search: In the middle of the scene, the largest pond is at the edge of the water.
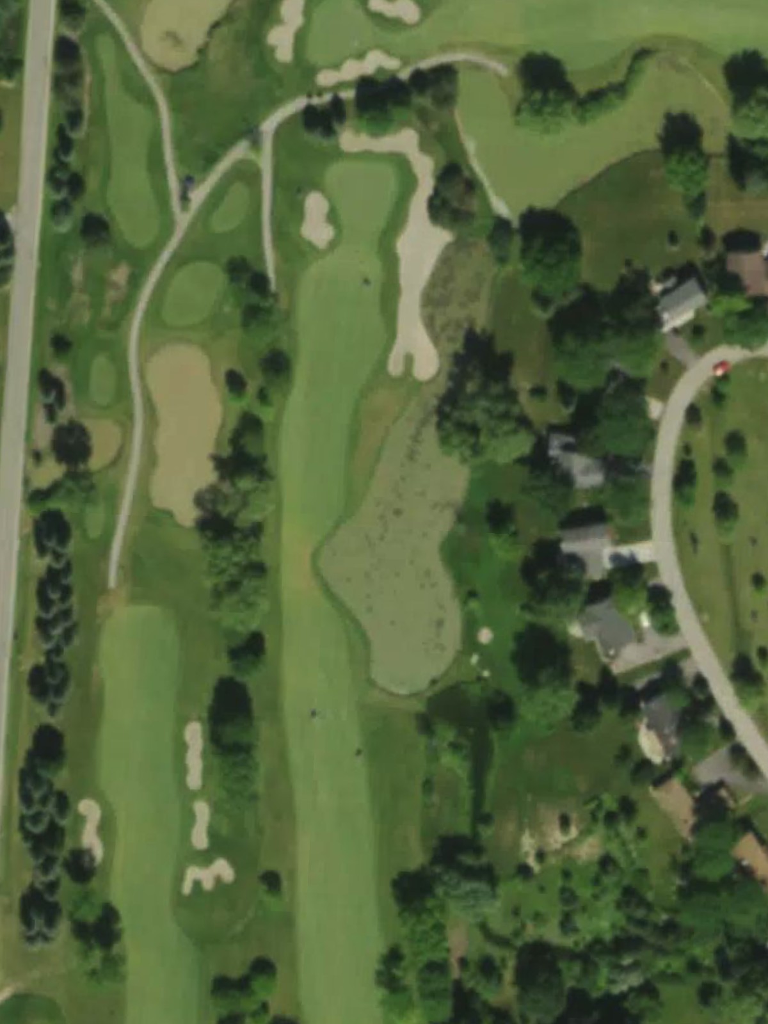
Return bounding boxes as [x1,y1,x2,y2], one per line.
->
[303,374,480,703]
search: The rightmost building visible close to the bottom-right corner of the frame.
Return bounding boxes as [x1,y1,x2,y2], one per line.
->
[734,835,768,879]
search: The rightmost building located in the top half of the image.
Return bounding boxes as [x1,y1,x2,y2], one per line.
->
[729,248,768,300]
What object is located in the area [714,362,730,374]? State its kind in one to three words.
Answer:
vehicle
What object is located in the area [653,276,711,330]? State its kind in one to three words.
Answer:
house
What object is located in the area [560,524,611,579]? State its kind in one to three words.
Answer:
house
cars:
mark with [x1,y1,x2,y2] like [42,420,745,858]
[639,612,650,628]
[714,362,730,374]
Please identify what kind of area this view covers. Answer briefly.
golf course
